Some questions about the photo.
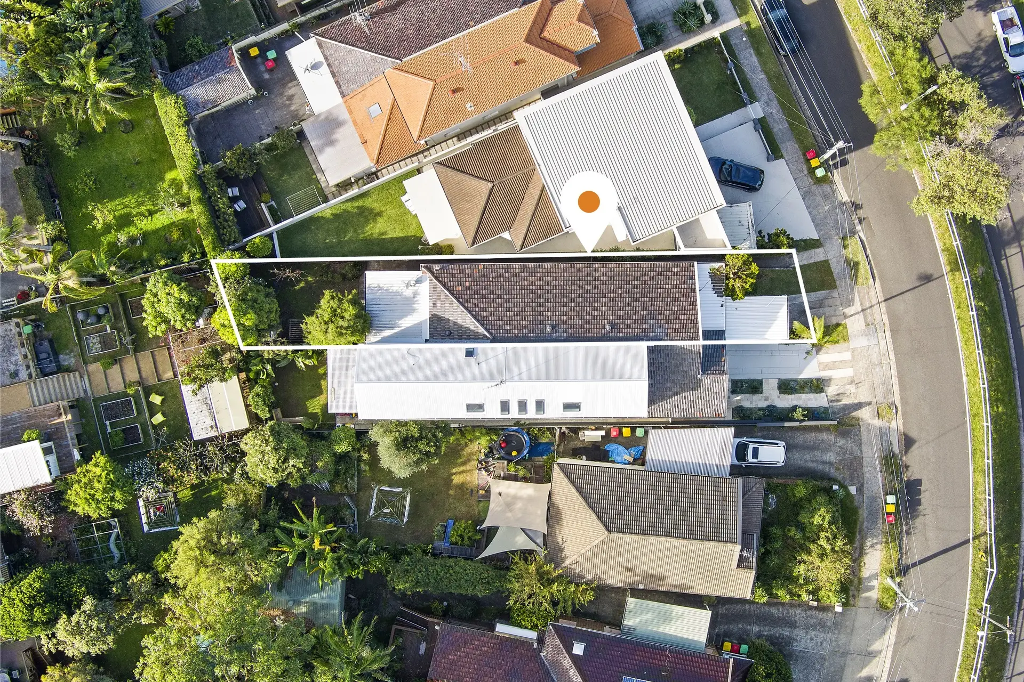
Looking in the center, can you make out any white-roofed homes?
Yes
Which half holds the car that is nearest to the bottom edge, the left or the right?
right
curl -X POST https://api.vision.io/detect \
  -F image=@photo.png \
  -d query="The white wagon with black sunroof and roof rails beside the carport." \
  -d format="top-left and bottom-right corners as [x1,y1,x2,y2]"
[732,438,788,466]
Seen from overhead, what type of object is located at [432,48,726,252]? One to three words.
house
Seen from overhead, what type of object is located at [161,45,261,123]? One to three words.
building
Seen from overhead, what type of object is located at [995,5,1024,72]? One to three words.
vehicle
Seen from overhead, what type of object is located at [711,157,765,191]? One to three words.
car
